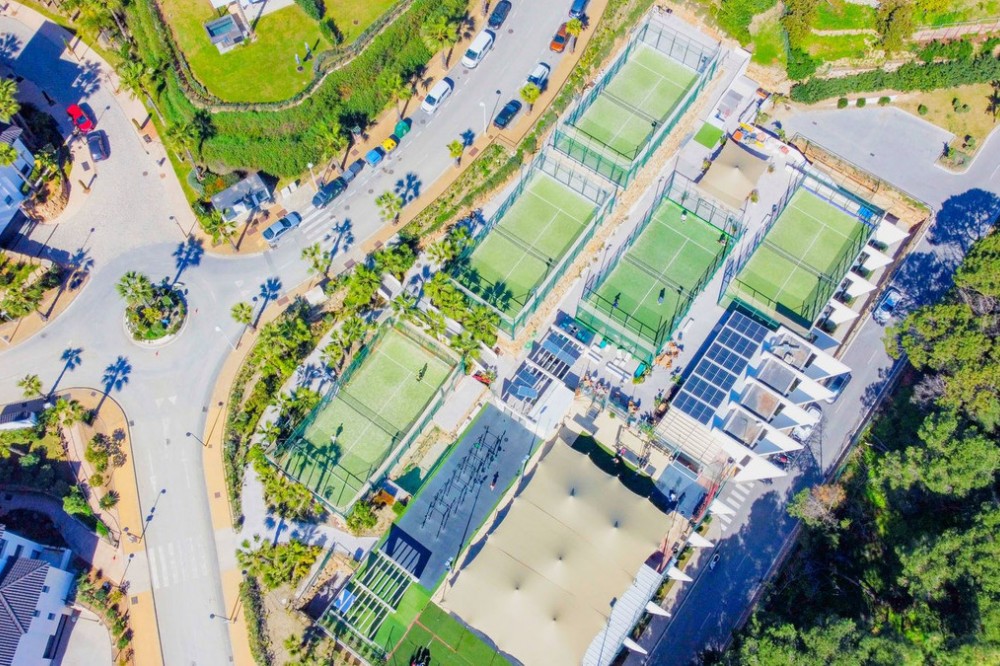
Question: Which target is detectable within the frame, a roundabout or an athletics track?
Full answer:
Of the two, only a roundabout appears.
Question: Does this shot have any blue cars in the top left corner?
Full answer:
Yes, a blue car is visible in the top left corner.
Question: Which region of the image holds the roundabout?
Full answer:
The roundabout is located in the left region of the scene.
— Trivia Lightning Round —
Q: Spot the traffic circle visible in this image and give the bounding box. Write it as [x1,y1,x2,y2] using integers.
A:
[122,280,191,347]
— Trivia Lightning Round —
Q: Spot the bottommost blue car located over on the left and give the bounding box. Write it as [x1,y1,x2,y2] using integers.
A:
[261,210,300,240]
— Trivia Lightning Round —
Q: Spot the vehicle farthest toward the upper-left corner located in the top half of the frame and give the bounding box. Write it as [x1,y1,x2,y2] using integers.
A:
[62,101,92,132]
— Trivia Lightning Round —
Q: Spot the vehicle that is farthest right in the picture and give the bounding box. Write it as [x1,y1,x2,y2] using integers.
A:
[875,286,905,321]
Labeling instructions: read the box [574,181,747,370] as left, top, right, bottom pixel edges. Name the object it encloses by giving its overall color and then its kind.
green sports court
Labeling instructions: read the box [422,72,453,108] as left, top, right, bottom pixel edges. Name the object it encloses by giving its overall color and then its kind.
white car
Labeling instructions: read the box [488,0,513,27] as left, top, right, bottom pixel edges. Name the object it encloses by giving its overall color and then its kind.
blue car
